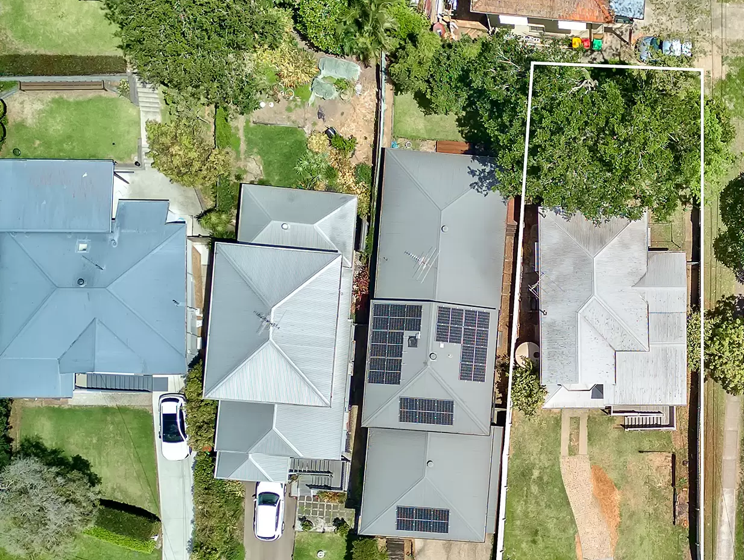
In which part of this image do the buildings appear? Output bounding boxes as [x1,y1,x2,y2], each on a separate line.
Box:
[0,158,200,401]
[469,0,647,39]
[356,146,512,543]
[201,183,361,485]
[536,205,689,411]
